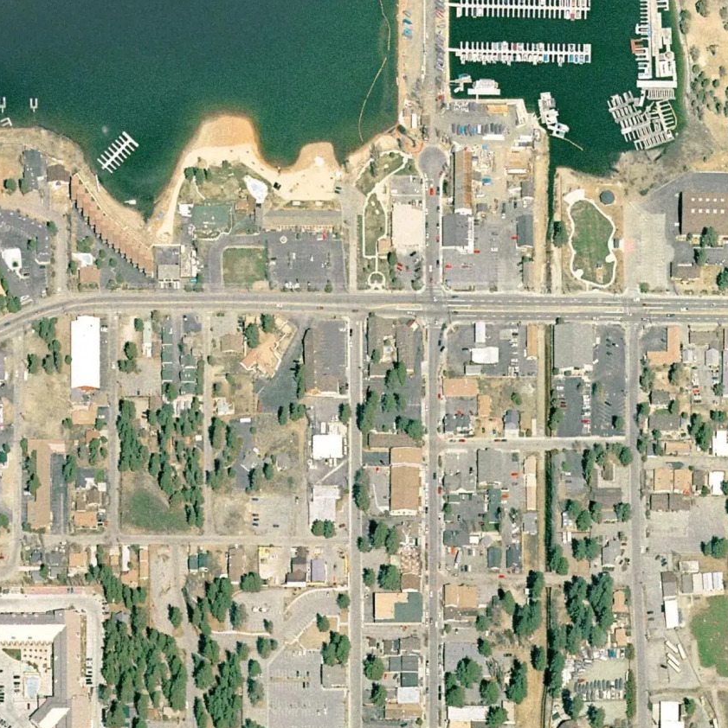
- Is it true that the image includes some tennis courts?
No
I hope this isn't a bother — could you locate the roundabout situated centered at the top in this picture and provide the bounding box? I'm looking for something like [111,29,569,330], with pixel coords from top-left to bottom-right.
[418,145,447,175]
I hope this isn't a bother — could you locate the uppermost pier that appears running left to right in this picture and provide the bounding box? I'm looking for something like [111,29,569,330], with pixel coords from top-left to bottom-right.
[446,0,590,18]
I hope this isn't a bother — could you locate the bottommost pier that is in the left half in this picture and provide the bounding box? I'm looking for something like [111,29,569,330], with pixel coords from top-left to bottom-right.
[95,131,139,175]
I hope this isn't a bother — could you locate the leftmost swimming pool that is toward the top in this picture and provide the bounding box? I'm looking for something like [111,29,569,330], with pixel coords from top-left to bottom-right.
[72,251,96,265]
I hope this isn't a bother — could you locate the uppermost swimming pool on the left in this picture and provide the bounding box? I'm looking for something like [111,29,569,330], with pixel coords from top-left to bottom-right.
[244,172,268,203]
